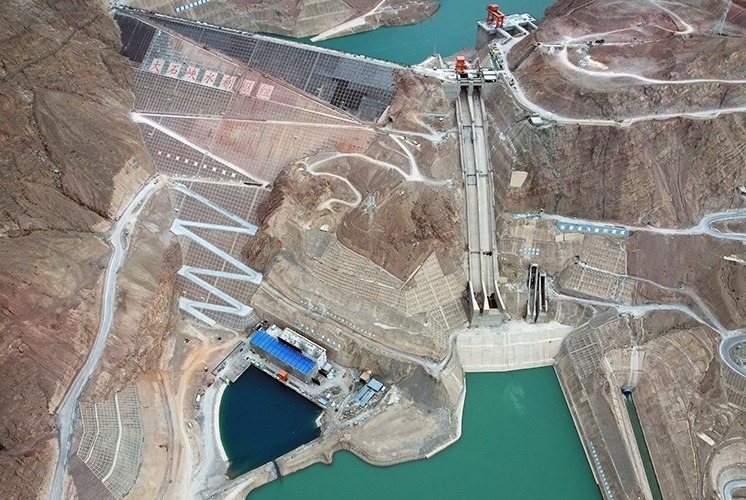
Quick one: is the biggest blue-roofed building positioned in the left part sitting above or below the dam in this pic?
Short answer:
below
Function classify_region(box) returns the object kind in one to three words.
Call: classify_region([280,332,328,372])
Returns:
building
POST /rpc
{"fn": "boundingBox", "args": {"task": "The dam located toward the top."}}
[114,0,449,329]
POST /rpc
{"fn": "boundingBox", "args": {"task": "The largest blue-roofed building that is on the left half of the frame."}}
[250,329,318,382]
